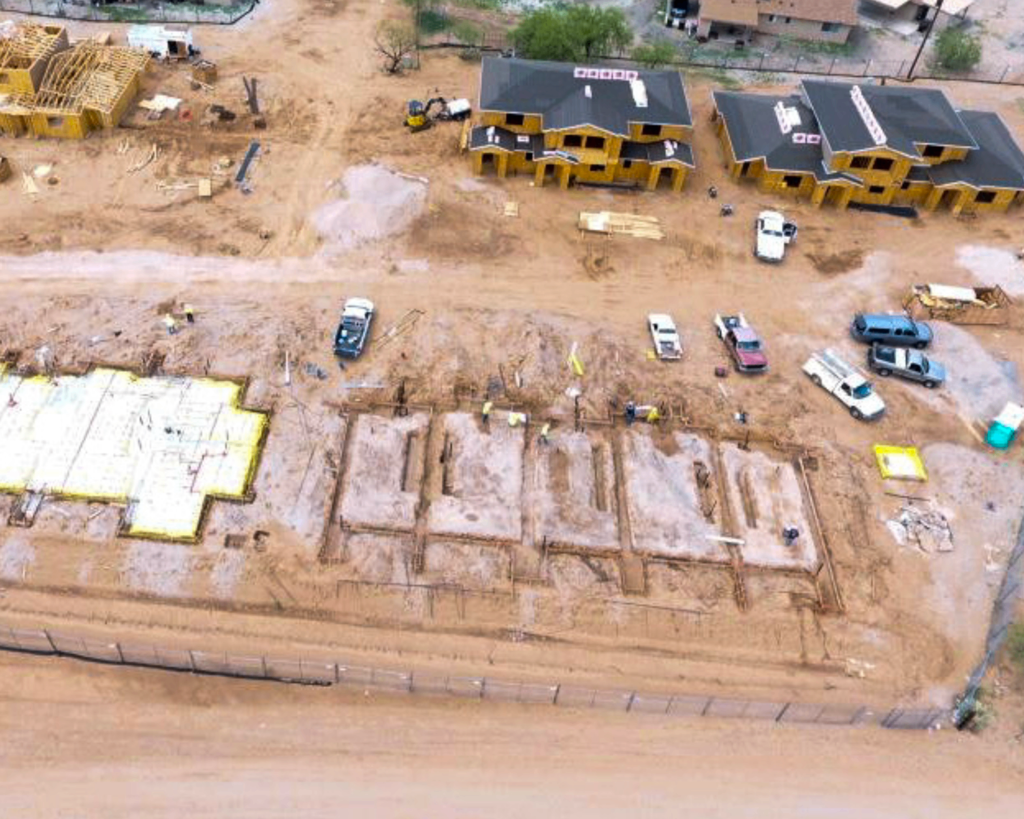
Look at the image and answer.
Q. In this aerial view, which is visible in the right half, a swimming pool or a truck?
truck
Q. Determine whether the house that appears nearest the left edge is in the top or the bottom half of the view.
top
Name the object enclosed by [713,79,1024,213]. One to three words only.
house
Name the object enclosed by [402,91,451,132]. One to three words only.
work vehicle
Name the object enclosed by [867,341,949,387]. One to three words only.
truck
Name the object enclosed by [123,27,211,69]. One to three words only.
trailer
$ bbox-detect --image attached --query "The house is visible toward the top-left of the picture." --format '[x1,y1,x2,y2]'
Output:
[0,16,158,141]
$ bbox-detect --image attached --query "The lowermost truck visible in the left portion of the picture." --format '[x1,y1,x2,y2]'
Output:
[330,300,374,357]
